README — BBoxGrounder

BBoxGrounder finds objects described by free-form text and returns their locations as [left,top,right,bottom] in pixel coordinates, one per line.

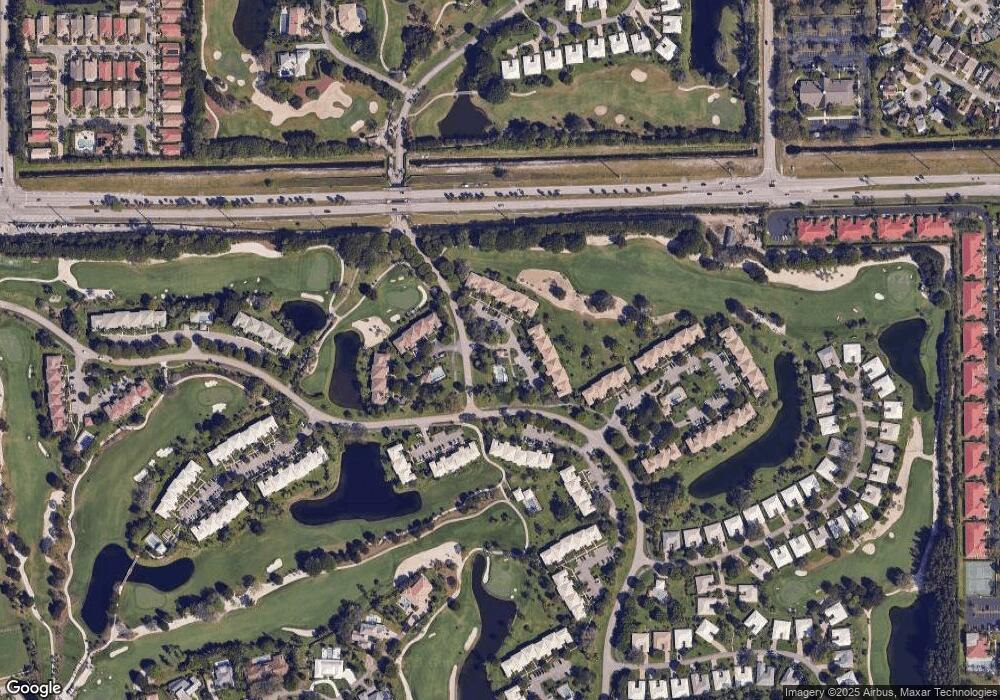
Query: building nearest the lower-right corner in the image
[971,638,994,657]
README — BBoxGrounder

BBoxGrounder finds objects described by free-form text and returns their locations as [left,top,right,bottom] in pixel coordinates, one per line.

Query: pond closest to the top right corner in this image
[688,0,739,75]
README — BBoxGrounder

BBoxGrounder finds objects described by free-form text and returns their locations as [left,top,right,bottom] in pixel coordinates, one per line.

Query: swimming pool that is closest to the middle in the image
[493,365,509,383]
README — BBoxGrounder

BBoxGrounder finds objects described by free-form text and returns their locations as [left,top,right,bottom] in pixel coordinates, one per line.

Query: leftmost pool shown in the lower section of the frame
[76,431,96,451]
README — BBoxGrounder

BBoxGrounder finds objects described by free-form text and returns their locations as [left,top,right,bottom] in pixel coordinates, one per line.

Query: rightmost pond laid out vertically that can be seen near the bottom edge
[888,594,936,700]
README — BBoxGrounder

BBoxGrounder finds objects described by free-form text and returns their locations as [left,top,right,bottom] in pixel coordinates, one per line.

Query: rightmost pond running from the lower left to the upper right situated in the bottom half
[689,352,800,497]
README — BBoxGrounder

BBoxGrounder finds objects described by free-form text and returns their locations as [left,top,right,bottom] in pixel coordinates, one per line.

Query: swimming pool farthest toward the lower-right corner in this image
[966,658,992,672]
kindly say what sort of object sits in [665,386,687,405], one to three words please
swimming pool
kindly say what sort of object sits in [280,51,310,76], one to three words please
house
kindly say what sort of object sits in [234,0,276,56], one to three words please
pond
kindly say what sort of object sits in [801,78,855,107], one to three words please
building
